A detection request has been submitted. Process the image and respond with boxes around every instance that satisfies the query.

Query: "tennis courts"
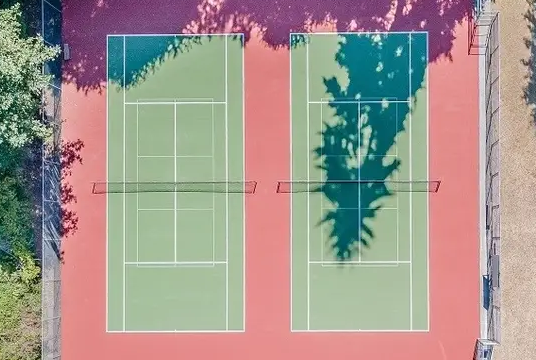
[107,34,245,332]
[291,32,429,332]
